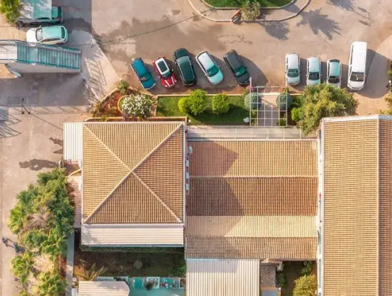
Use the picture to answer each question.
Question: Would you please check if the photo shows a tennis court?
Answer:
No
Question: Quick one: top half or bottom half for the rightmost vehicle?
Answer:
top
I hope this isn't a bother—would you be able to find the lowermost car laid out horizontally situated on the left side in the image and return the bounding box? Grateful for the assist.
[26,24,69,44]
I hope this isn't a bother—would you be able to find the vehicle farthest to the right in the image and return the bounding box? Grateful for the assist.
[348,38,369,90]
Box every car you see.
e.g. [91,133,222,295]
[306,58,323,80]
[20,7,63,27]
[326,60,341,87]
[174,49,195,87]
[223,49,249,86]
[195,50,223,87]
[155,56,175,89]
[26,24,69,44]
[131,58,155,90]
[285,53,302,86]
